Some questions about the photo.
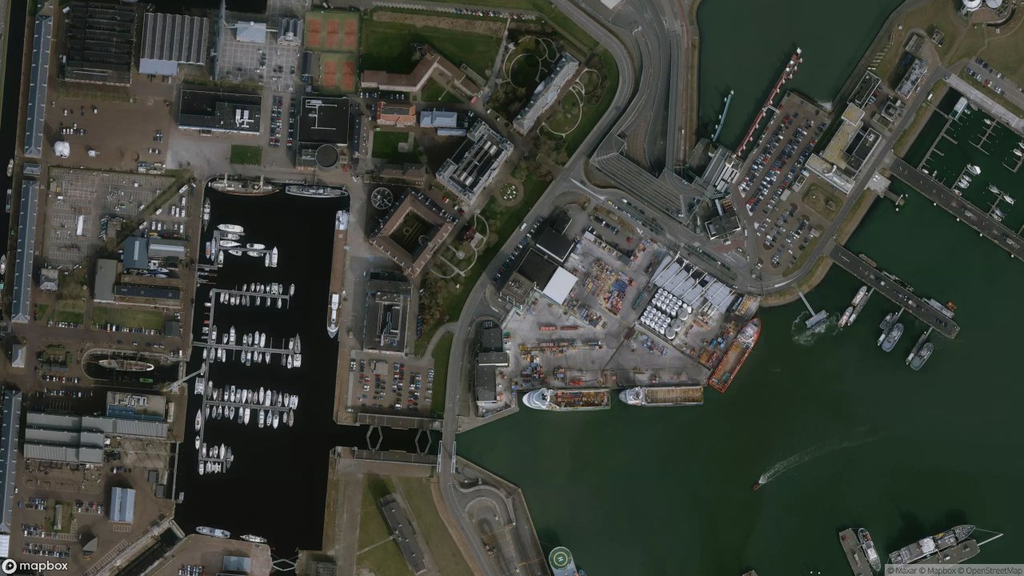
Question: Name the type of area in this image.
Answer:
port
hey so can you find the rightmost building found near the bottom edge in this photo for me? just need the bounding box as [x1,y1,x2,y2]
[382,494,426,574]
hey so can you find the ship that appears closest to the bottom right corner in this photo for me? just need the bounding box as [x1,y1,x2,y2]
[888,525,975,569]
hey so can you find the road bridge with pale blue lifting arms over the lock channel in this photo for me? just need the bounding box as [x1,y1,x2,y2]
[436,431,456,477]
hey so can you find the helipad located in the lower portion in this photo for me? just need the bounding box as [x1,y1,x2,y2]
[548,548,572,571]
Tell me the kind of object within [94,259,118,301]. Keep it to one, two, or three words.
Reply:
building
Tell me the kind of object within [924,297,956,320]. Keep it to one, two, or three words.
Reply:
ship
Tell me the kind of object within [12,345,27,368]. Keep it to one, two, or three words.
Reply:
house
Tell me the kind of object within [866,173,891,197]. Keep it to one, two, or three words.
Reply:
pier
